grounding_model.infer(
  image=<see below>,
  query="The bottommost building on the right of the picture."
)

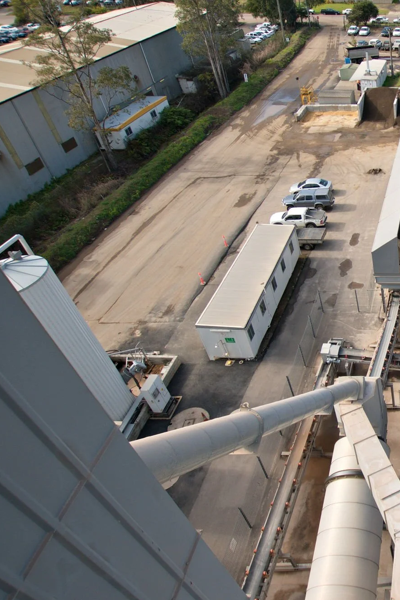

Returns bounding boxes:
[192,223,301,358]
